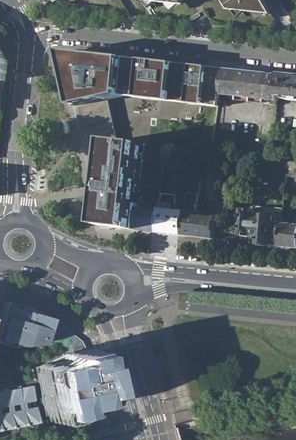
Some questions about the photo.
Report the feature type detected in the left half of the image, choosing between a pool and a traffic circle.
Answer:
traffic circle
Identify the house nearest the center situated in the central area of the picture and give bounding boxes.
[151,206,180,235]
